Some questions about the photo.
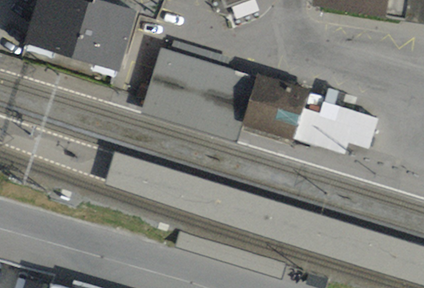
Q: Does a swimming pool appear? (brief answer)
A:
No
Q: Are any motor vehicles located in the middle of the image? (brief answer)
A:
No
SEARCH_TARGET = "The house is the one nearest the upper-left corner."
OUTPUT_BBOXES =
[22,0,137,78]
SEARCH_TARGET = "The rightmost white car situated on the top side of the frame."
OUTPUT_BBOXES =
[162,13,186,26]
